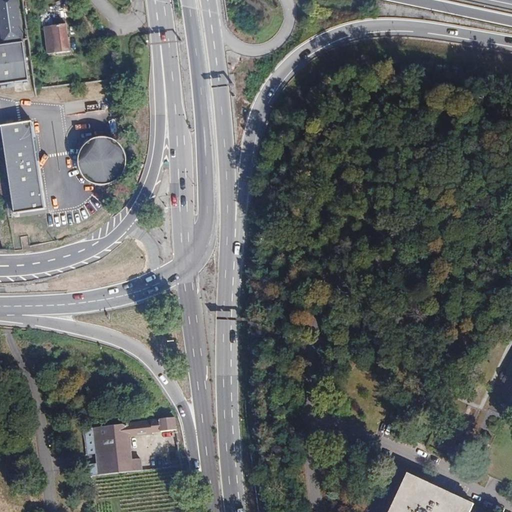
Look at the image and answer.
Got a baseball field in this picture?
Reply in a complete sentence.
No, there is no baseball field in the image.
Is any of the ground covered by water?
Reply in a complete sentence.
No, there's no water in this view.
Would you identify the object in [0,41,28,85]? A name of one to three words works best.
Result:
building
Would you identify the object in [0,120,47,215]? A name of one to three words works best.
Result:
building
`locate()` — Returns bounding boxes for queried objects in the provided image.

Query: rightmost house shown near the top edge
[43,23,70,55]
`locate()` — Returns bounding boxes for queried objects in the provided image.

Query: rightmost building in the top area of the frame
[76,136,126,187]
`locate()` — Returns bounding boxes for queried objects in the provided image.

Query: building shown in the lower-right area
[385,470,474,512]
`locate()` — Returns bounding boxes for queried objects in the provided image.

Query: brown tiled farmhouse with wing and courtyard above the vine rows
[84,416,177,476]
